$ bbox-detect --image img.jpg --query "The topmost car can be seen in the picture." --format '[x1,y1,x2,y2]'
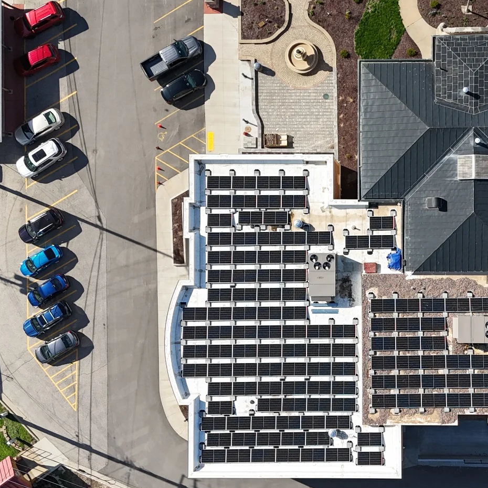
[16,0,68,40]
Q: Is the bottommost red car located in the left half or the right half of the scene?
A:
left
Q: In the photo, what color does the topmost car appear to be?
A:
red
